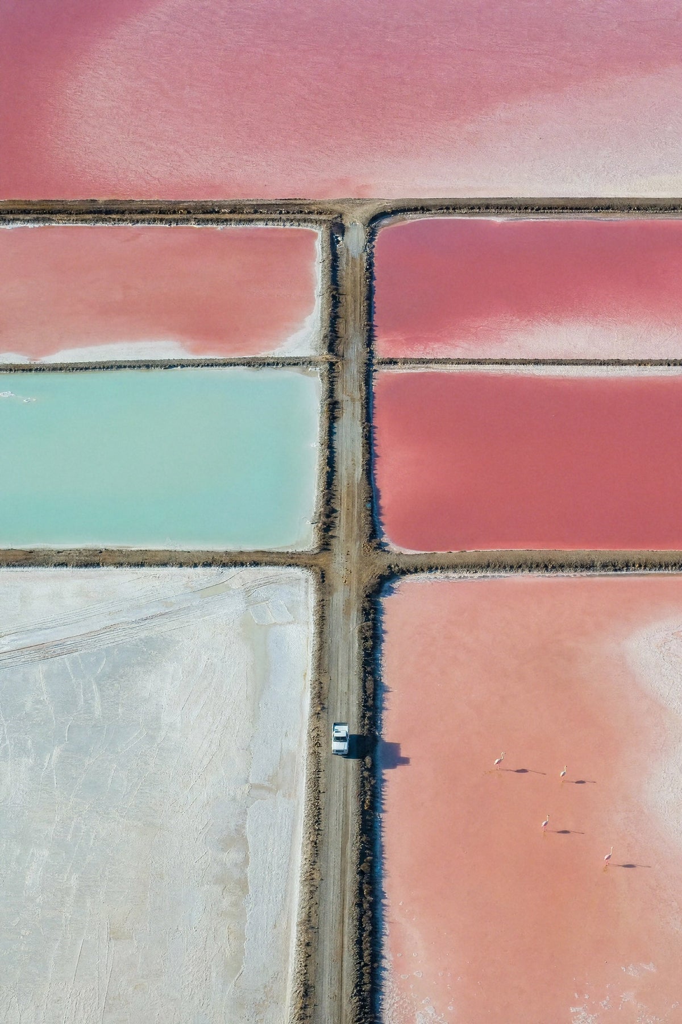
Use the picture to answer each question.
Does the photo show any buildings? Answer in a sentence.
No, this view has no building in it.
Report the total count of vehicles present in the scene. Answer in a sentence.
There is 1 vehicle in the image.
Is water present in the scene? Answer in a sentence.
Yes, water can be seen from above here.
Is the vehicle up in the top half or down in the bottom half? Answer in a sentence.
You can find the vehicle in the bottom half.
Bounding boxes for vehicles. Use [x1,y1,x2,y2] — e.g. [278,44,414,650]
[330,724,350,758]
